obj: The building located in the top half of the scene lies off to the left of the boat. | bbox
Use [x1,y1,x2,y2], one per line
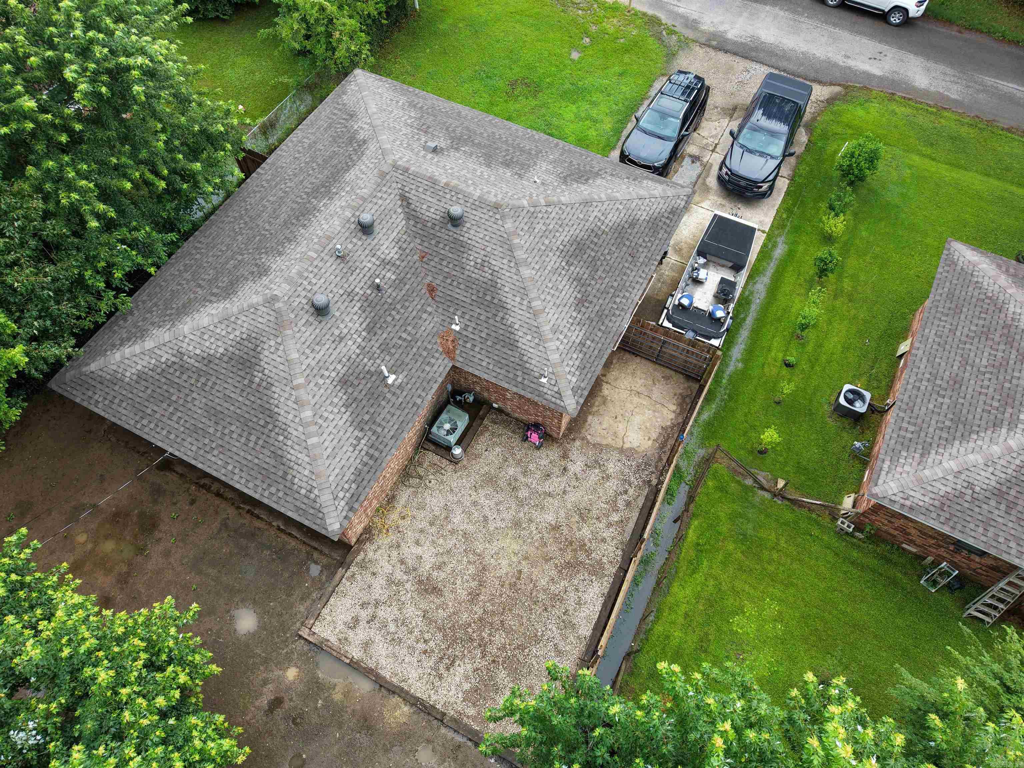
[46,66,696,546]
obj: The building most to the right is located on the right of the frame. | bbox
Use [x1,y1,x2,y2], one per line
[840,235,1024,606]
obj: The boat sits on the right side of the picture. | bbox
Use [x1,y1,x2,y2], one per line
[665,210,758,349]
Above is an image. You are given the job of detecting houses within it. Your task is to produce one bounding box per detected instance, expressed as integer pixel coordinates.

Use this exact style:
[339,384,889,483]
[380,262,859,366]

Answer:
[840,235,1024,606]
[46,66,696,546]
